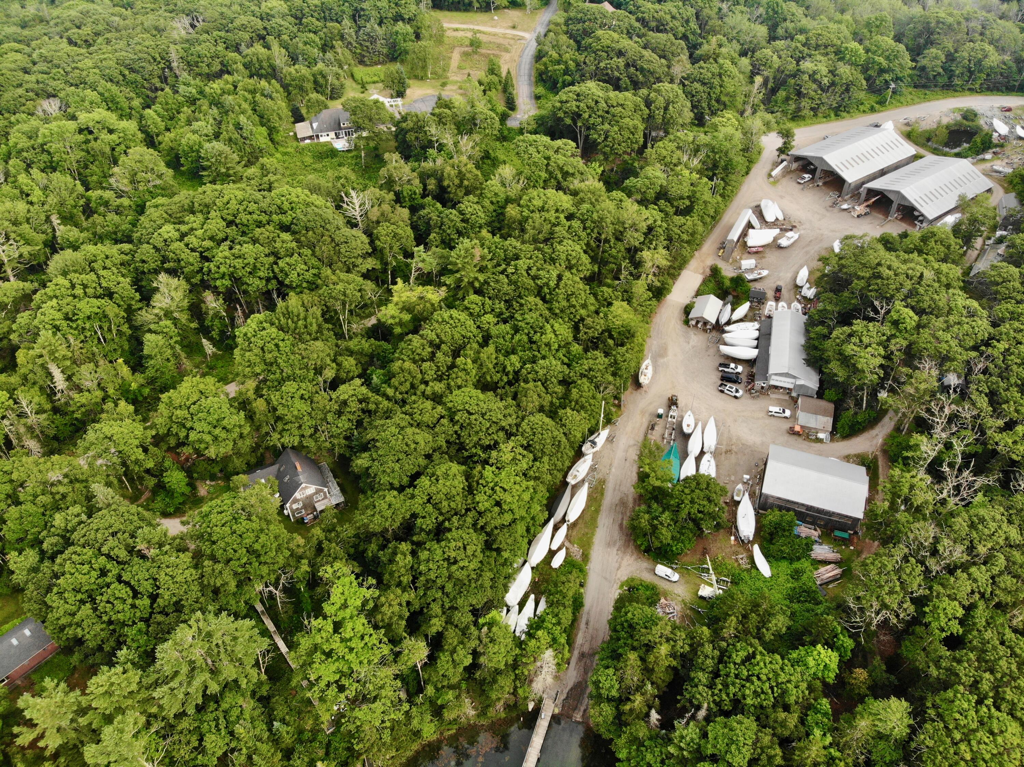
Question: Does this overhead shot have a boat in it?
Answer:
Yes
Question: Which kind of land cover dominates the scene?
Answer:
trees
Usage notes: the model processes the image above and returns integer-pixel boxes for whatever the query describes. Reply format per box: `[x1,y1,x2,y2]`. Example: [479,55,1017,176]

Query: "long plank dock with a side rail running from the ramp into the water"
[522,687,560,767]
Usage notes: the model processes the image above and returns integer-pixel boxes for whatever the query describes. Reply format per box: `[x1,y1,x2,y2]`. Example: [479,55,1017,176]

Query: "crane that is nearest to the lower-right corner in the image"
[695,554,721,602]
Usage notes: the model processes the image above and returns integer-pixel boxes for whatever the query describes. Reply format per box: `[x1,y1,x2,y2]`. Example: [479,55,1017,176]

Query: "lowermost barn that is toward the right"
[755,444,869,533]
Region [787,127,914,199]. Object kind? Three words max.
shed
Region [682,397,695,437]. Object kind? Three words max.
boat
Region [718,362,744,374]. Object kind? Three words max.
vehicle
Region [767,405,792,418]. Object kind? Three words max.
vehicle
